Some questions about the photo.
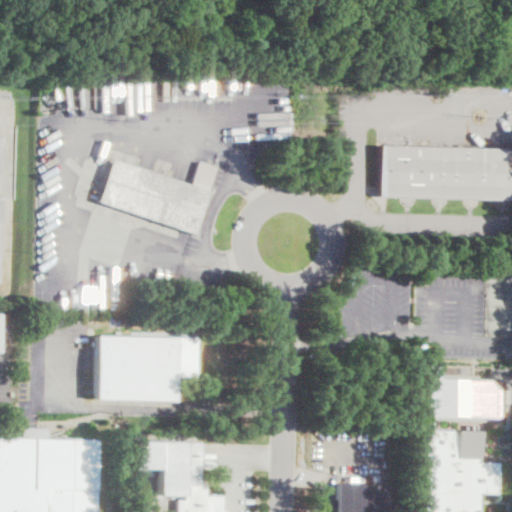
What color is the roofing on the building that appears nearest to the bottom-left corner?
white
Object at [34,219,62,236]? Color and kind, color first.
white vehicle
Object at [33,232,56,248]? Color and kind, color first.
white vehicle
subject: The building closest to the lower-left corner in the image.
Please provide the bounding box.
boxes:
[0,428,102,512]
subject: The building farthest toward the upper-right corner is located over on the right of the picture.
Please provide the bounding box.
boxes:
[380,146,512,201]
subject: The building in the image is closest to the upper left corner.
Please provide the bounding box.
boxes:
[98,160,218,236]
